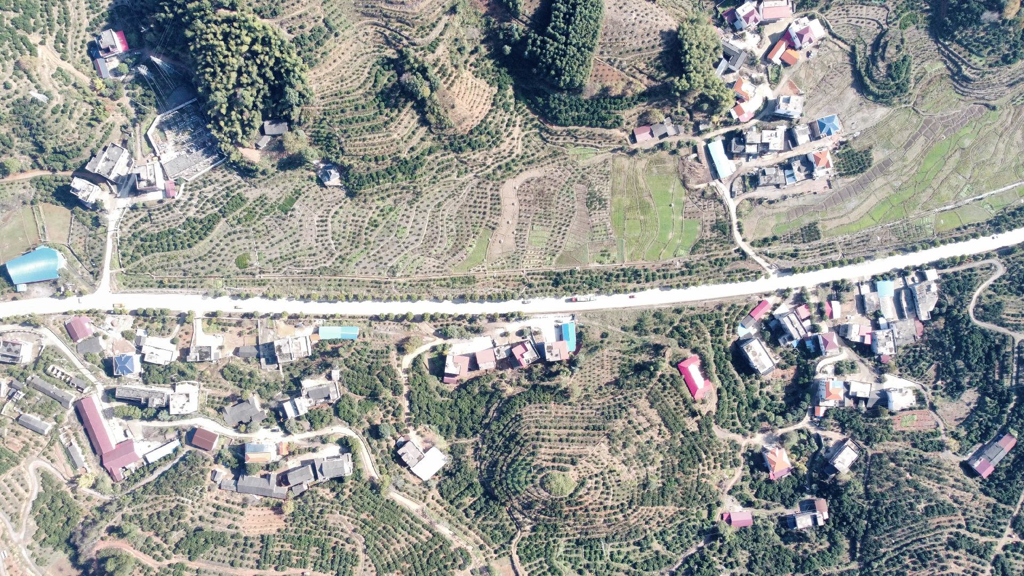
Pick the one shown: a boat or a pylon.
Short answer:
pylon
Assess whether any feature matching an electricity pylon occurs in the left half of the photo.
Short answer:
Yes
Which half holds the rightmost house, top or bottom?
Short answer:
bottom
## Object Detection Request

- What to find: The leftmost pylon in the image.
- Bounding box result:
[23,91,52,107]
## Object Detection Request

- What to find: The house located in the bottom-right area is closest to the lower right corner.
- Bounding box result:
[971,432,1016,478]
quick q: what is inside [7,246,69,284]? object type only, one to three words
building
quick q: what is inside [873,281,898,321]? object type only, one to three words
shed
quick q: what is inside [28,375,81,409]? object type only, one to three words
barn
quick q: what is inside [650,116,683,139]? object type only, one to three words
house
